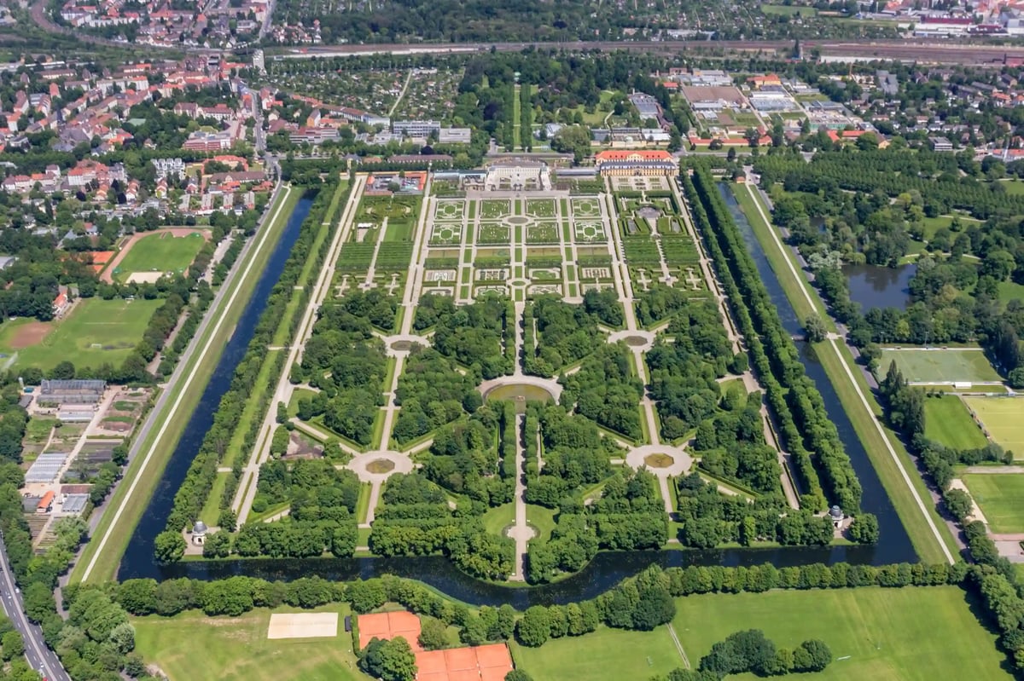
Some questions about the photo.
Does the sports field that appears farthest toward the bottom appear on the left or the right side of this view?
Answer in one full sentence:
It is on the right.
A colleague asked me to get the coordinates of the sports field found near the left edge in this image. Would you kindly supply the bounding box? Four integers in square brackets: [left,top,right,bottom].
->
[0,299,160,372]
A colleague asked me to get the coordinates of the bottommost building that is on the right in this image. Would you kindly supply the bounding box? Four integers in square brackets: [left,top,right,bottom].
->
[828,506,846,531]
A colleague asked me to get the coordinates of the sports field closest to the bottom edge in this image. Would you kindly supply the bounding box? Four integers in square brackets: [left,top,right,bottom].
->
[964,396,1024,458]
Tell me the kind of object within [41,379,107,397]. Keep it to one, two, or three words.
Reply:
greenhouse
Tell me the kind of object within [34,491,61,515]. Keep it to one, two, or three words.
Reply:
house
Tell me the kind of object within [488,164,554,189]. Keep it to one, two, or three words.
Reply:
building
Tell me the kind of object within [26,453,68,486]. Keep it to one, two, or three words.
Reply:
greenhouse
